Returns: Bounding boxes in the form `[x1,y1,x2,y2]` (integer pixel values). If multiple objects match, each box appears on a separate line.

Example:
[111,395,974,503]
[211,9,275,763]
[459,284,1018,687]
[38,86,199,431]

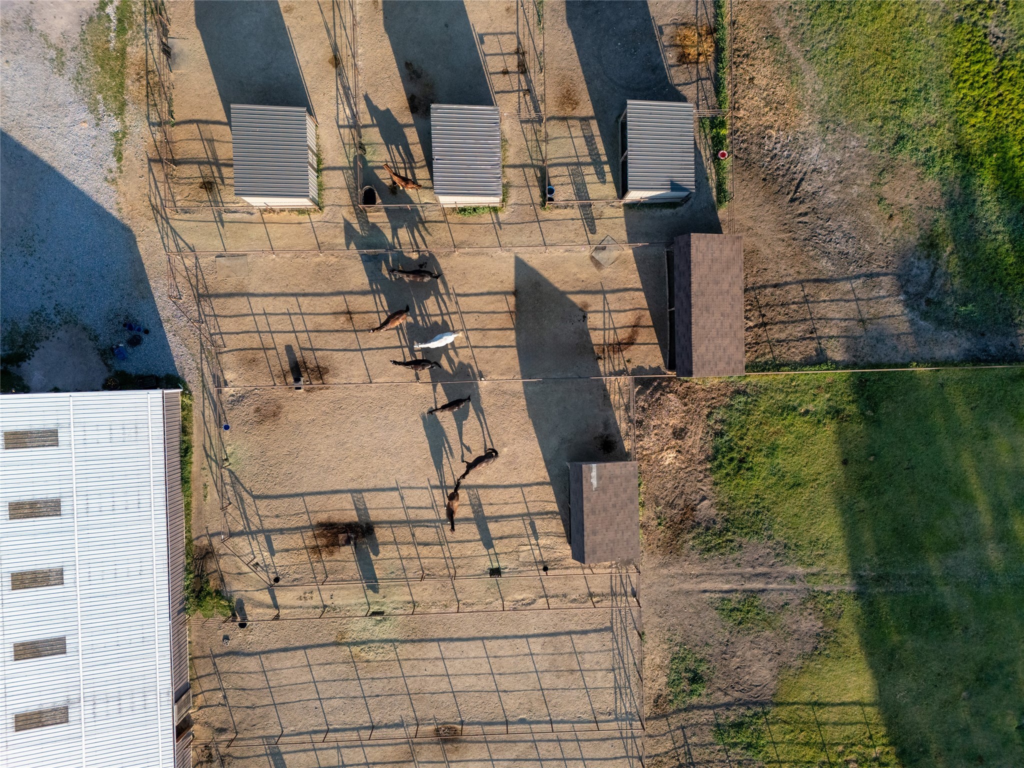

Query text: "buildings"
[661,233,745,377]
[620,99,695,200]
[230,103,318,206]
[0,388,194,768]
[431,103,502,205]
[562,457,640,564]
